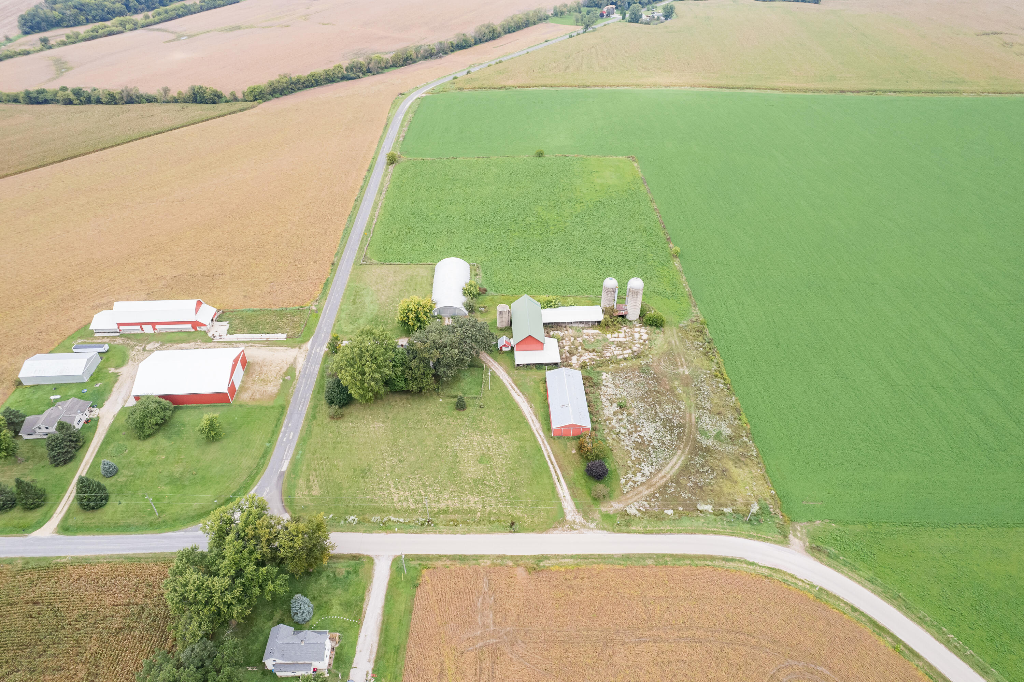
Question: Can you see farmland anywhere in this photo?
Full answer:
Yes, the picture does contain farmland.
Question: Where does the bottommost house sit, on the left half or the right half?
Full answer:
The bottommost house is on the left side of the image.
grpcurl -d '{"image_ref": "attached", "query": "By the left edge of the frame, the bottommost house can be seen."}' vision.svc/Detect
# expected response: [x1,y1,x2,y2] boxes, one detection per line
[19,394,93,439]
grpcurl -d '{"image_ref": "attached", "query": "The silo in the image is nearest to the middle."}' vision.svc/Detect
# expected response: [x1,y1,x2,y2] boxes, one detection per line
[497,303,511,327]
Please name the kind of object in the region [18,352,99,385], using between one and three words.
shed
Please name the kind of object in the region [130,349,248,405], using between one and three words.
shed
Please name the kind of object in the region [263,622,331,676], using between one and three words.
house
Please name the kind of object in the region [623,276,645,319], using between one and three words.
silo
